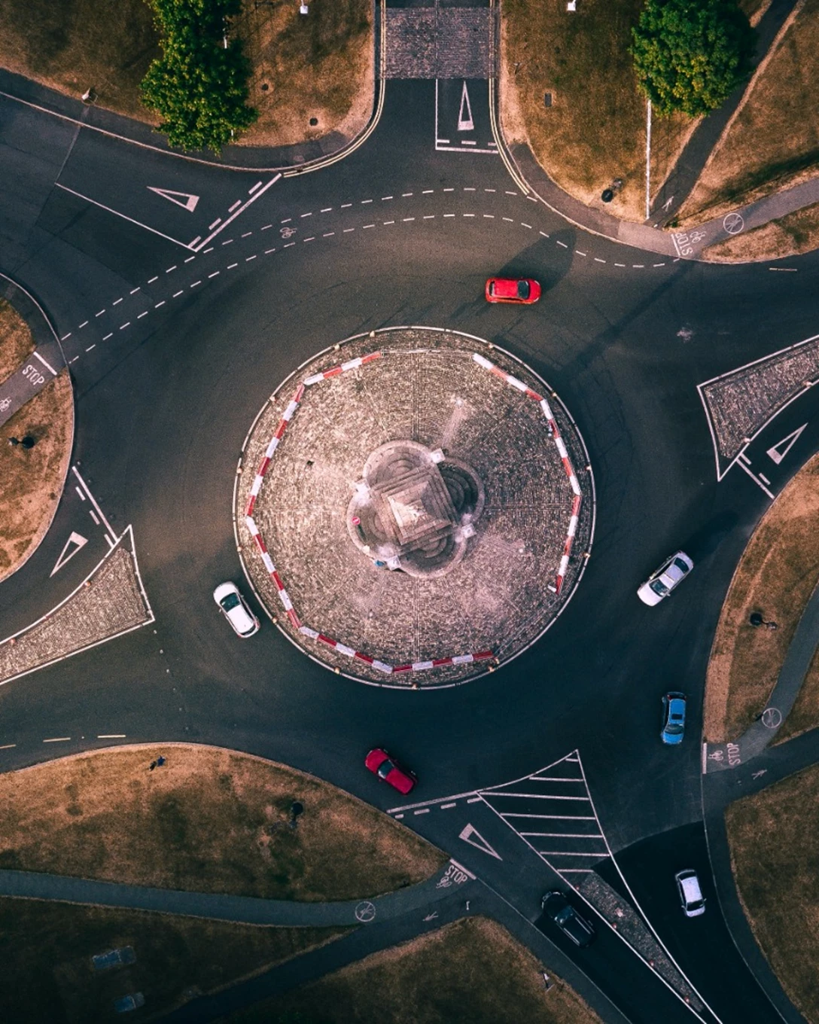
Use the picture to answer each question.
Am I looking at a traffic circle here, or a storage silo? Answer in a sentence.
The one in the frame is a traffic circle.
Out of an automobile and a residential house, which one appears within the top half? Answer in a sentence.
It is an automobile that can be seen within the top half.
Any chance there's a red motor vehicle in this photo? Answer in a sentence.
Yes, a red motor vehicle is visible in the scene.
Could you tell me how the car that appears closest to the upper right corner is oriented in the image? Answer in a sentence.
The car that appears closest to the upper right corner is oriented horizontally.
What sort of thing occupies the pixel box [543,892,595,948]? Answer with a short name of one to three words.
car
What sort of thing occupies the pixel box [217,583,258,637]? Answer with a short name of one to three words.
car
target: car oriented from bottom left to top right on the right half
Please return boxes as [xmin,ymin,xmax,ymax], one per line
[641,552,693,603]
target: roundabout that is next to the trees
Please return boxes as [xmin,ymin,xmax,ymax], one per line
[62,189,725,818]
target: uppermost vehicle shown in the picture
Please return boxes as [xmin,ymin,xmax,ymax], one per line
[486,277,540,304]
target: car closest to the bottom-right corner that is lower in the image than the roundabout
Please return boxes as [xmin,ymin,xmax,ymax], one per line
[675,867,706,914]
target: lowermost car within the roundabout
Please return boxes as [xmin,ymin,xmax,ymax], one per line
[366,749,417,796]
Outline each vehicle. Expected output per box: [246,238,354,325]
[486,277,540,304]
[366,749,417,796]
[641,552,693,603]
[543,892,595,948]
[675,867,706,914]
[217,583,258,637]
[661,692,687,743]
